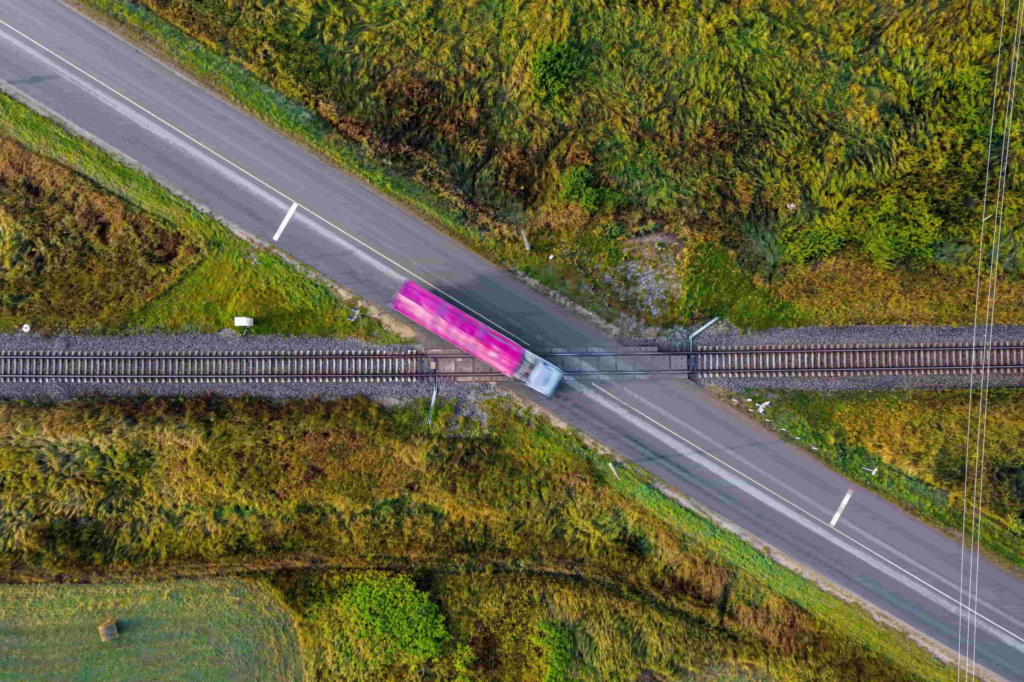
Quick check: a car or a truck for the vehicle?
truck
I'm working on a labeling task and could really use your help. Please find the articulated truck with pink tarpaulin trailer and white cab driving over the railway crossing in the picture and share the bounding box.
[391,278,563,400]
